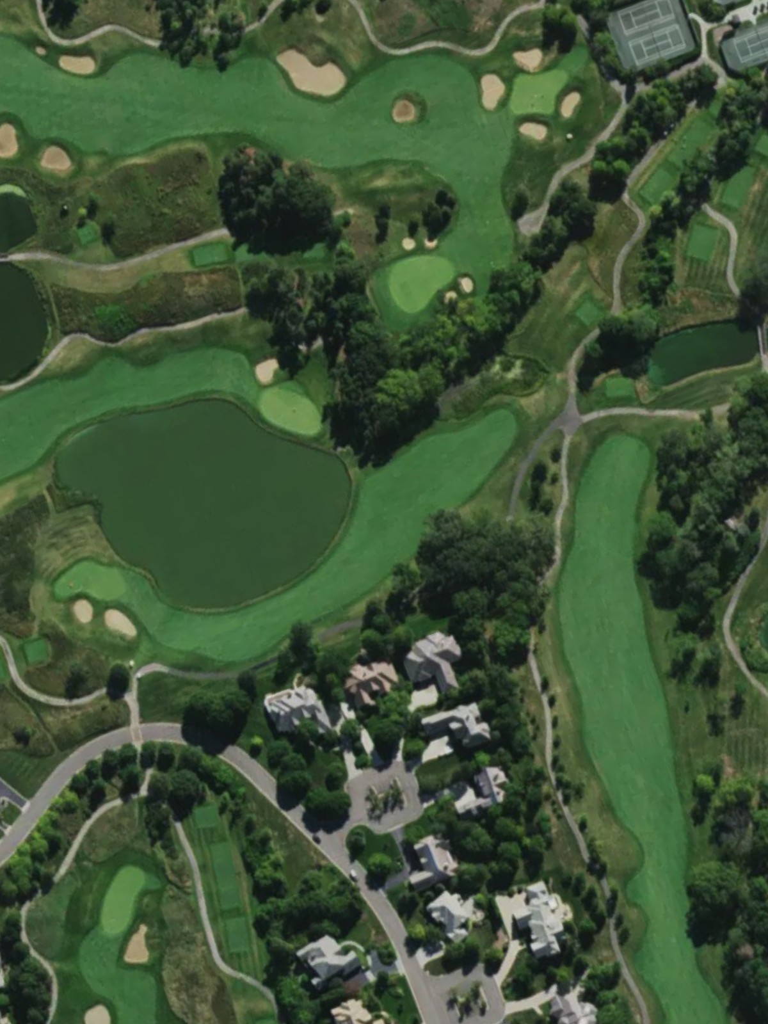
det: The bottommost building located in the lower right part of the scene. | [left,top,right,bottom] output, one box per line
[548,991,598,1024]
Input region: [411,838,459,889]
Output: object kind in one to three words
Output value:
house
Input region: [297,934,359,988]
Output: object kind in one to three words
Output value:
house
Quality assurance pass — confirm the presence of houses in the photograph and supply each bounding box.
[423,701,492,749]
[329,996,384,1024]
[548,991,598,1024]
[297,934,359,988]
[514,878,563,958]
[259,683,333,736]
[411,838,459,889]
[425,888,474,940]
[402,630,463,689]
[341,659,402,710]
[473,763,511,808]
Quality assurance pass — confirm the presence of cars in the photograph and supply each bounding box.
[312,834,321,844]
[349,869,359,881]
